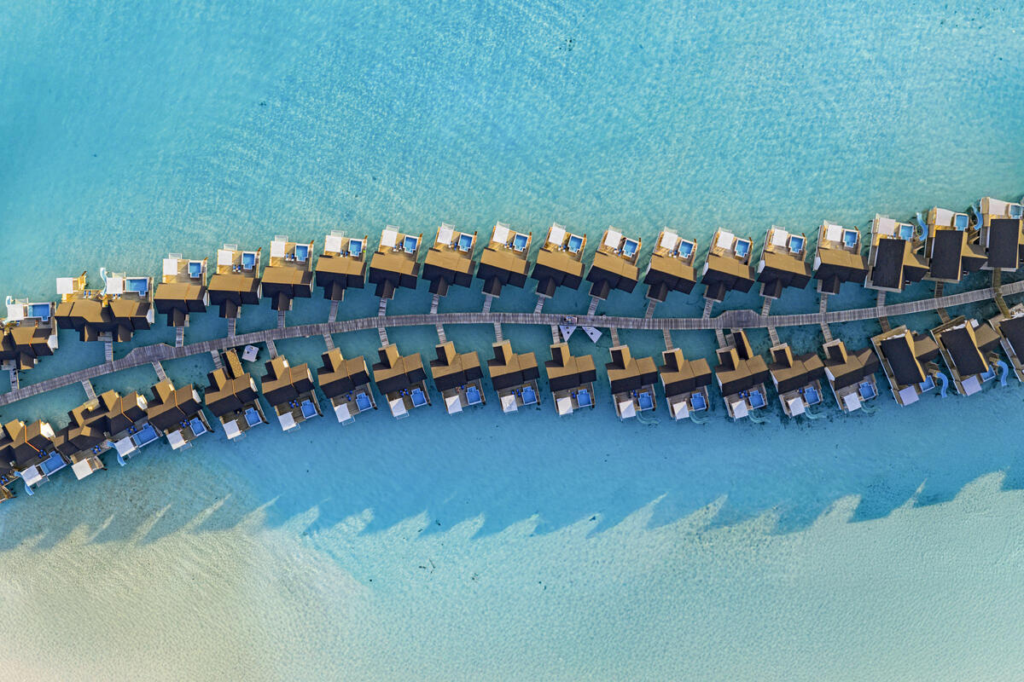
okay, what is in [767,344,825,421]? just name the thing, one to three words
house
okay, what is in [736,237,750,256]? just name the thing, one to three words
swimming pool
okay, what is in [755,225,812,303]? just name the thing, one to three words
house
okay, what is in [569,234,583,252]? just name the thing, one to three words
swimming pool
